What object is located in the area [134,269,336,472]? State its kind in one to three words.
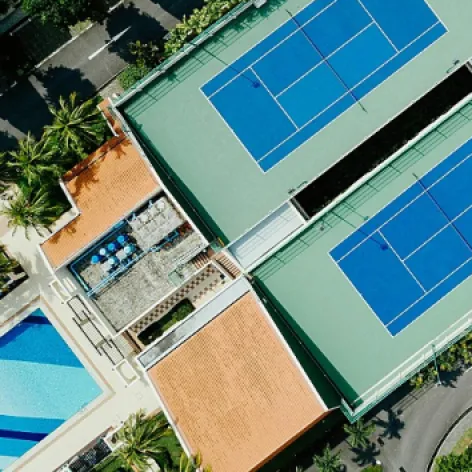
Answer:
building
